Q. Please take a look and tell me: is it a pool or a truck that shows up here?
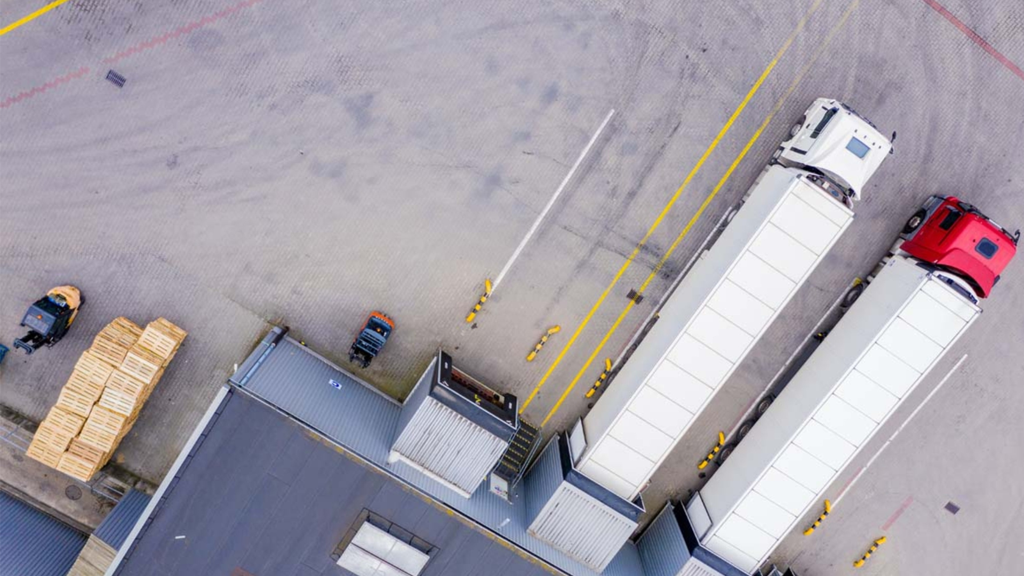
truck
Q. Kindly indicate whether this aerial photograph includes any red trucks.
Yes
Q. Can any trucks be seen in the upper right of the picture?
Yes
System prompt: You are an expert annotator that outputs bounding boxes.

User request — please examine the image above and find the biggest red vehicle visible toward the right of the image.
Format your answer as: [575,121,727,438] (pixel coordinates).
[878,196,1011,297]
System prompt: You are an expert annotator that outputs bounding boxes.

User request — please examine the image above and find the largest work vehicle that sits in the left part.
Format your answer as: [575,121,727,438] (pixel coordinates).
[11,283,87,355]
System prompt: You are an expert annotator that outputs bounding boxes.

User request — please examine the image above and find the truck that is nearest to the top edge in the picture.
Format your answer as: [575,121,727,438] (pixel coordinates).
[762,99,892,203]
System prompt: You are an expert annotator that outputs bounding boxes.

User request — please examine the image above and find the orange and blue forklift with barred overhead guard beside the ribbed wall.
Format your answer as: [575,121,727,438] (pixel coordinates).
[348,308,396,369]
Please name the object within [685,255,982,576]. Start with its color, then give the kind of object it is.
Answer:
white trailer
